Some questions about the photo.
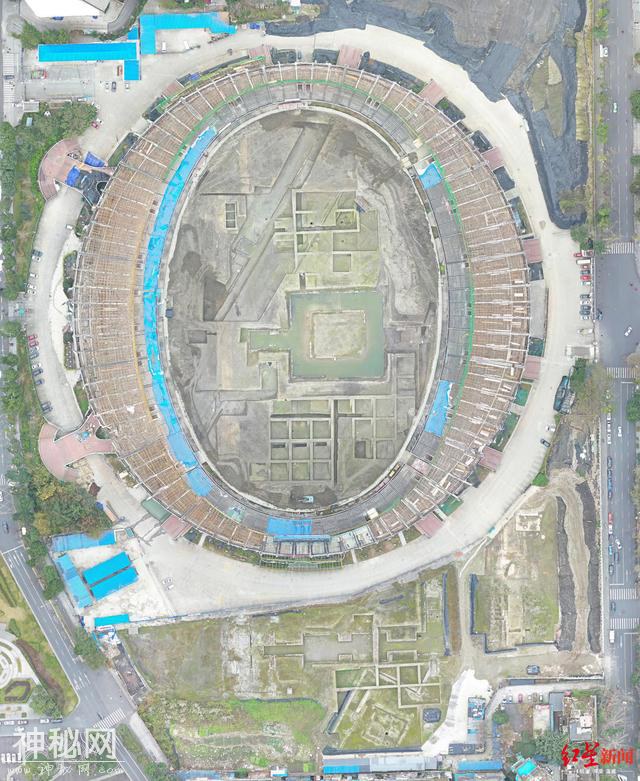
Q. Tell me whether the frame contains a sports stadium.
Yes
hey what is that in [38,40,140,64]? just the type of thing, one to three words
shed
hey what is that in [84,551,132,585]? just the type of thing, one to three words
shed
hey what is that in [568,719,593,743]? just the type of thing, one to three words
building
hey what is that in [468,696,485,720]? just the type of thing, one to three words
building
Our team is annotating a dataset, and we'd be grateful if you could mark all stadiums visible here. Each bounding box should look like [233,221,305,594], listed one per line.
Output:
[72,46,545,563]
